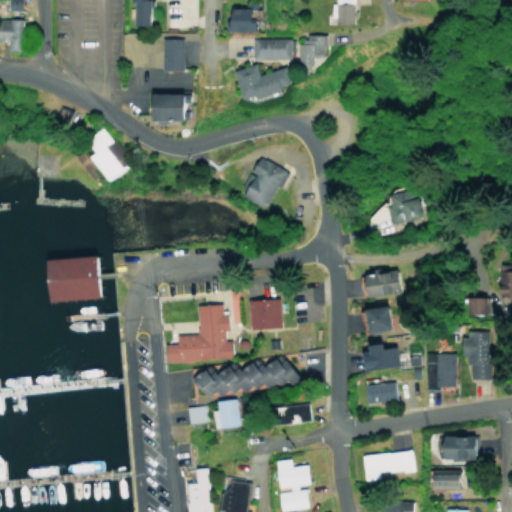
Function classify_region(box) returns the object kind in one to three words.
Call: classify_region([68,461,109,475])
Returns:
boat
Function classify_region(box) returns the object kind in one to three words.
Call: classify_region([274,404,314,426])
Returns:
house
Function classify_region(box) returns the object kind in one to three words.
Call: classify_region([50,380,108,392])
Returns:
pier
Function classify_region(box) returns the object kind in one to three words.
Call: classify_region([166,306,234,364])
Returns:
building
